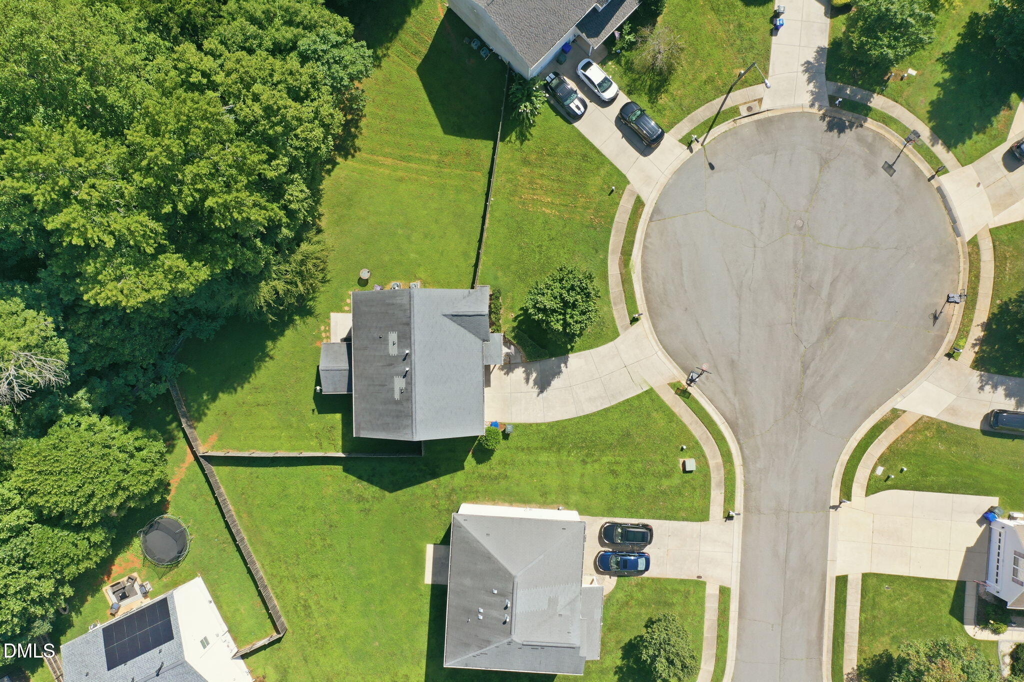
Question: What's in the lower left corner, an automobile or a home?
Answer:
home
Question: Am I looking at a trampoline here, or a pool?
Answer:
trampoline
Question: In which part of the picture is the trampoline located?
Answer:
bottom left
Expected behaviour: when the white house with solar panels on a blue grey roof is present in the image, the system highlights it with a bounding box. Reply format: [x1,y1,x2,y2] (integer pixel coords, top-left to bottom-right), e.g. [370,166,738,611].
[60,578,242,682]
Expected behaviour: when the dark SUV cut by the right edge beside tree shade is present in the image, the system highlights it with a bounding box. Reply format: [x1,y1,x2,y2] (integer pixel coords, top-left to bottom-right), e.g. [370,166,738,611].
[988,410,1024,434]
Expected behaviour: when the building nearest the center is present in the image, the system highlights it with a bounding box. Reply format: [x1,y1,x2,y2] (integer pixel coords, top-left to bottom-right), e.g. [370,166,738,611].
[319,284,505,440]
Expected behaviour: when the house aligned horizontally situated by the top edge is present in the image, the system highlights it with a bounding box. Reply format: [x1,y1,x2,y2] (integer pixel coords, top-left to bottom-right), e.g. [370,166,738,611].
[447,0,641,80]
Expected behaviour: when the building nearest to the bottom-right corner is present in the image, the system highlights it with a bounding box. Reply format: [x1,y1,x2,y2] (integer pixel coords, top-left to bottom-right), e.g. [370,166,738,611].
[989,521,1024,608]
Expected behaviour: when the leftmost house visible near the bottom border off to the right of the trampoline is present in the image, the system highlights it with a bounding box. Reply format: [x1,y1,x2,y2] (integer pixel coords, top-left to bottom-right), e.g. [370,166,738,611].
[443,505,605,676]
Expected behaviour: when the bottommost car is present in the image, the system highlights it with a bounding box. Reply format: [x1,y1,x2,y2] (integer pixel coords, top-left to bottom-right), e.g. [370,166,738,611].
[597,550,651,576]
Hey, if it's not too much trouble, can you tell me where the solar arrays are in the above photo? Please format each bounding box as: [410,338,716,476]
[102,597,173,670]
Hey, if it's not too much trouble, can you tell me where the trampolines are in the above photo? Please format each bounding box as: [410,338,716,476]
[138,514,193,567]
